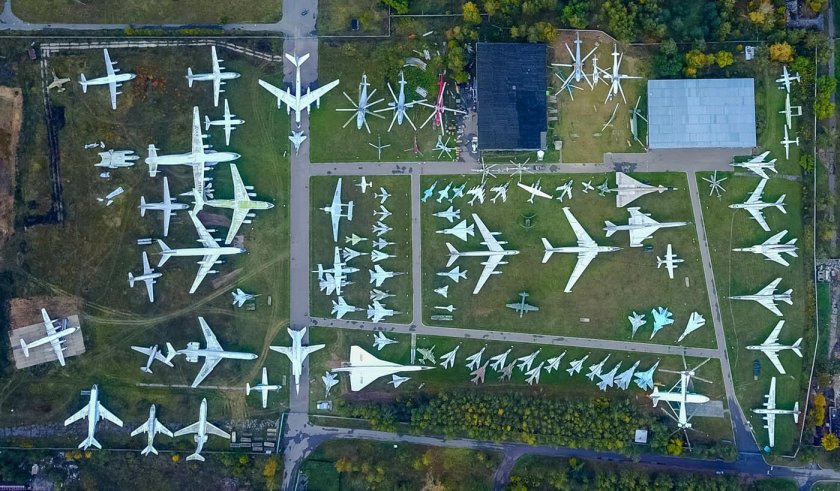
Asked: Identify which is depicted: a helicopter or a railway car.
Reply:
helicopter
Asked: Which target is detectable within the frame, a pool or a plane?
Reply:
plane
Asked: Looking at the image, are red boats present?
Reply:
No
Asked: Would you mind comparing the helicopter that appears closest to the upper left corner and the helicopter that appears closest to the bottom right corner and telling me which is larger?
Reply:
the helicopter that appears closest to the bottom right corner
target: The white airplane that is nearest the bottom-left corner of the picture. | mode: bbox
[62,384,121,452]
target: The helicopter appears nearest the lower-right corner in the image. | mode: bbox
[651,352,712,449]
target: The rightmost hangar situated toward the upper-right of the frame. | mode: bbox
[645,78,756,149]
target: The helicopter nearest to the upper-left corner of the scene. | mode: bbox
[336,71,385,134]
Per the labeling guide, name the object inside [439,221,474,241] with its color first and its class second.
white airplane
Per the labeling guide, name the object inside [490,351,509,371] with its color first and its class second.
white airplane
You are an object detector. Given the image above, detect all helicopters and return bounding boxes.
[336,71,385,134]
[369,136,390,159]
[504,158,534,182]
[628,97,647,151]
[551,32,598,90]
[472,158,504,183]
[651,352,712,449]
[413,75,467,134]
[374,73,427,132]
[596,42,642,104]
[582,54,610,85]
[432,135,457,158]
[404,137,423,157]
